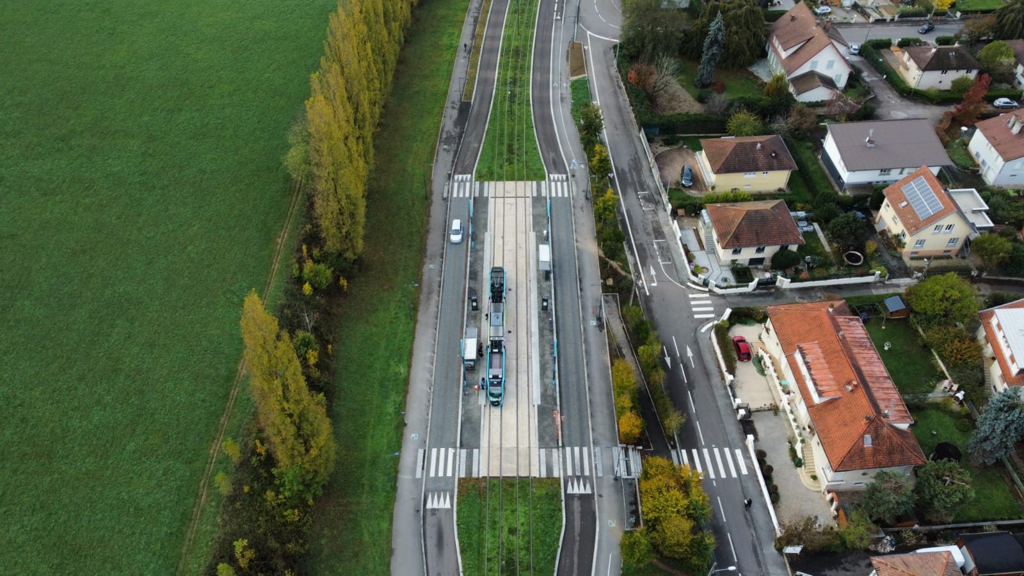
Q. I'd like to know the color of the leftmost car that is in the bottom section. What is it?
red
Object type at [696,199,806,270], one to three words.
house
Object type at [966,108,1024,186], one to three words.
house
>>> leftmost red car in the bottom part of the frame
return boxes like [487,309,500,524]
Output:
[732,337,753,361]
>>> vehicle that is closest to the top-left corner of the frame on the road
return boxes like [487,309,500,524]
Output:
[449,220,463,243]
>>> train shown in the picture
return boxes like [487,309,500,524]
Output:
[485,269,507,408]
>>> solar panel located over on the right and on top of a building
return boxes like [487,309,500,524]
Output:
[901,176,944,220]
